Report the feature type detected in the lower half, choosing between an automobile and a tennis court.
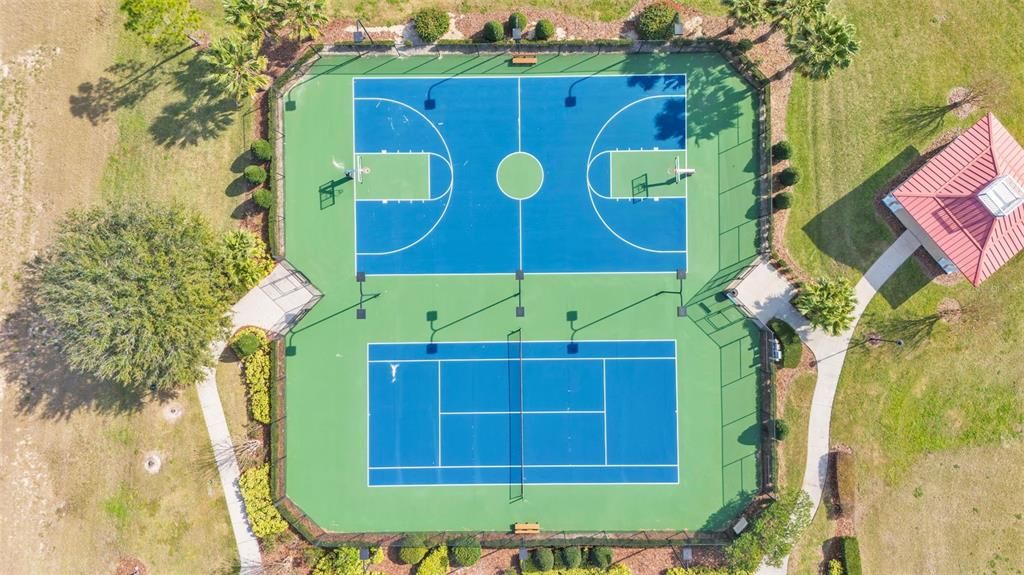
tennis court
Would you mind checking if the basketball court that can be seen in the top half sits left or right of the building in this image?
on the left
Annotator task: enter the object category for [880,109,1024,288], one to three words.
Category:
building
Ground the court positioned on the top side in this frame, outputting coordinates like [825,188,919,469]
[353,73,688,276]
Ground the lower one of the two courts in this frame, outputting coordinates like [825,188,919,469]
[367,340,680,487]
